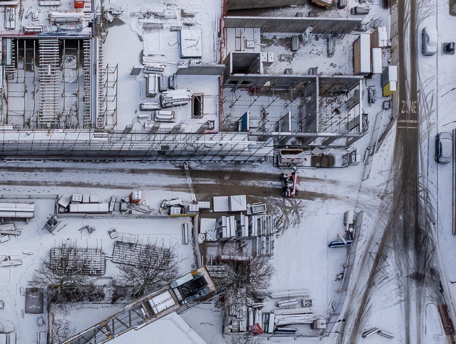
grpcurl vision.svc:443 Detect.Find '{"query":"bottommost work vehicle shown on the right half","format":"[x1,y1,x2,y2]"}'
[278,166,299,201]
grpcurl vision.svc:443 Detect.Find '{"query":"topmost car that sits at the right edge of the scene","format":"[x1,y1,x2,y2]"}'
[418,28,437,59]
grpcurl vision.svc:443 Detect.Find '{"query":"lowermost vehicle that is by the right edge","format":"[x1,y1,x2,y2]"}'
[433,134,453,165]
